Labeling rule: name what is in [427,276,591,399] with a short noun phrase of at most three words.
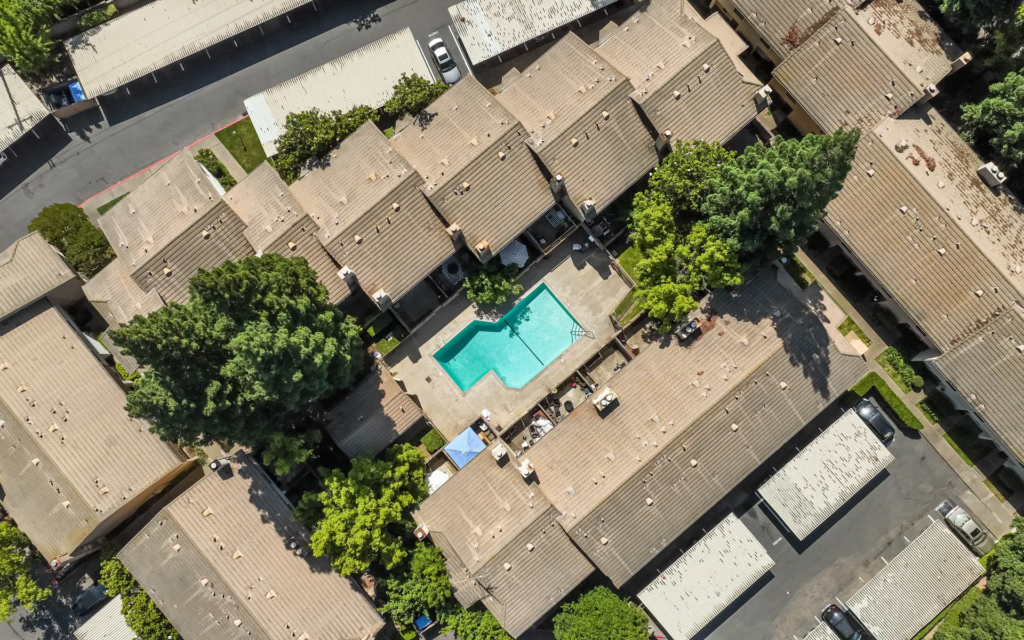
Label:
swimming pool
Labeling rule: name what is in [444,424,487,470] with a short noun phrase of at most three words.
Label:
tent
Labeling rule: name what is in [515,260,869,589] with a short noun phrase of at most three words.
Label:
building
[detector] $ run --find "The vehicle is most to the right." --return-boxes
[945,505,990,557]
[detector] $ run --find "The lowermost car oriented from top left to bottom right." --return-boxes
[822,602,863,640]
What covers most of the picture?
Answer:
buildings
